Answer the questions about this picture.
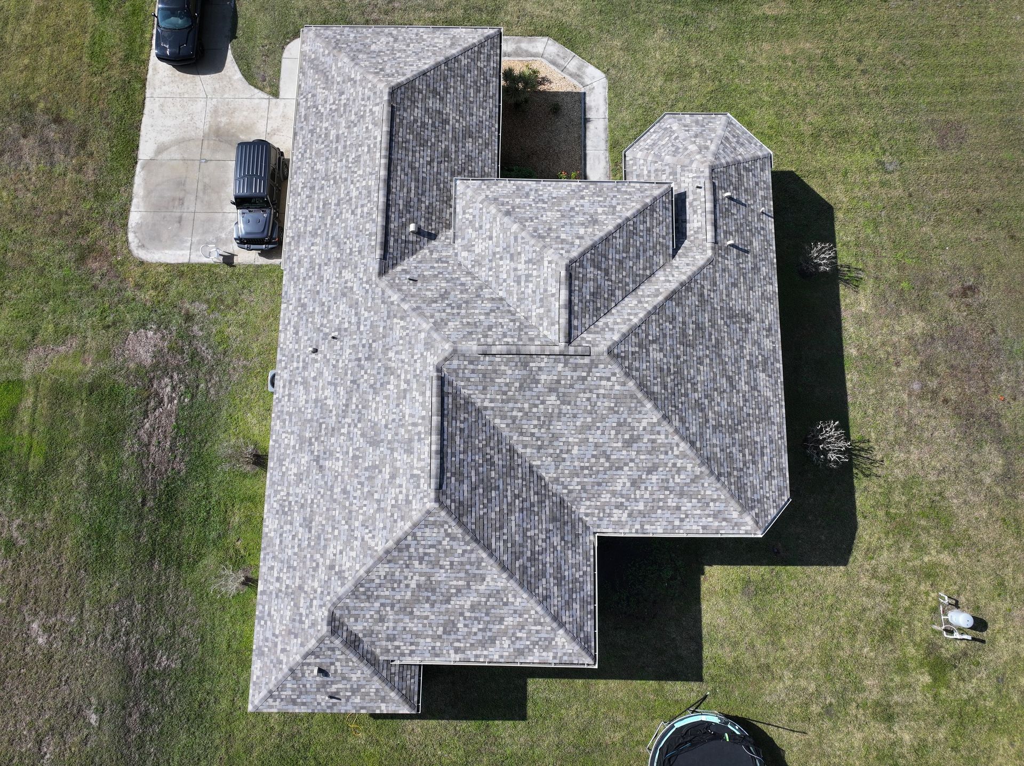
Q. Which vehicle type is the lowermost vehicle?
car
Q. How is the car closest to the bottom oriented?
from top to bottom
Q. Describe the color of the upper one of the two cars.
black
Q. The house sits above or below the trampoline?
above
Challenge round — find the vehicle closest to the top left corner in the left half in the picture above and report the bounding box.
[151,0,207,66]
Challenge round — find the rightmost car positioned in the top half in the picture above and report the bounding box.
[228,137,287,250]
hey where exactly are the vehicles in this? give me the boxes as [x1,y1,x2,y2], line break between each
[151,0,207,66]
[228,137,287,250]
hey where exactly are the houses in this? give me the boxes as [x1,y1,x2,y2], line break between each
[248,25,792,714]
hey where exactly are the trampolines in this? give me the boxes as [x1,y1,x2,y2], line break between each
[645,694,764,766]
